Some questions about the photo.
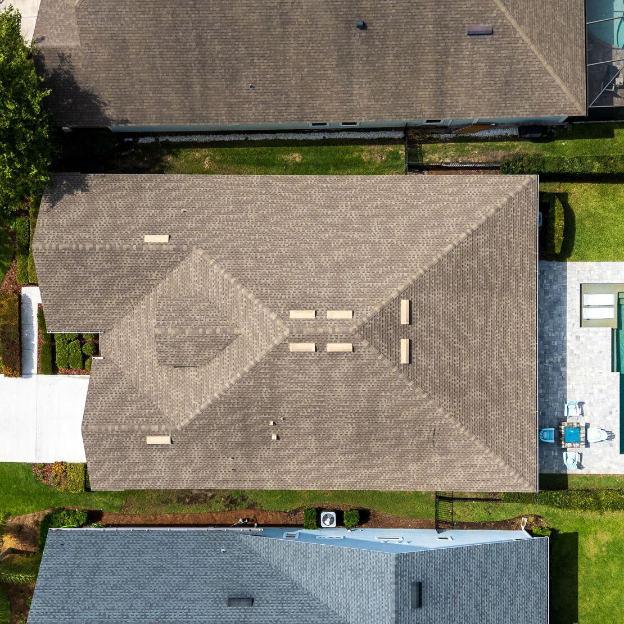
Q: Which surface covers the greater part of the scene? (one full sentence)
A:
Most of the picture is covered by buildings.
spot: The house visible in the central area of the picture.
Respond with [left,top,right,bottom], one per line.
[33,172,541,495]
